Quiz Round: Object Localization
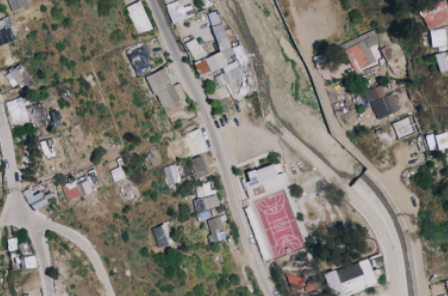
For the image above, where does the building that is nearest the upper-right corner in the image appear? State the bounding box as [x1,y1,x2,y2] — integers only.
[422,1,448,29]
